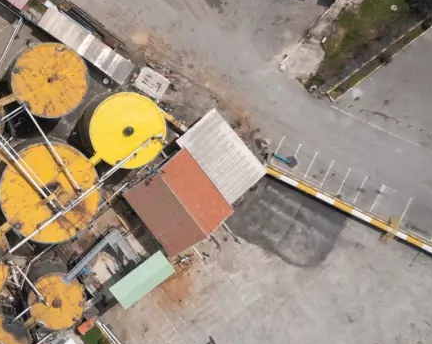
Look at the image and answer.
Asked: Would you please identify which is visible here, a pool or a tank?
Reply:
tank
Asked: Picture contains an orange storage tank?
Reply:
Yes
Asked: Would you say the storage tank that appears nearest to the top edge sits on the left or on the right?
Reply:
left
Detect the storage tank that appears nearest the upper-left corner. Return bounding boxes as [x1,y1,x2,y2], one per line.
[4,41,89,120]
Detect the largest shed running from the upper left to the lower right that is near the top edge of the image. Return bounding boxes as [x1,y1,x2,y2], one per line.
[37,7,134,84]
